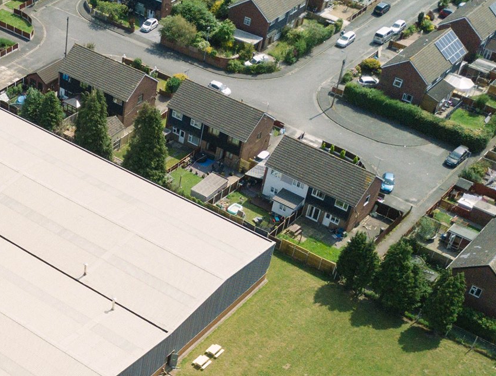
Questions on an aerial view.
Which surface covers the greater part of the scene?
buildings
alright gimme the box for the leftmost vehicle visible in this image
[140,18,160,32]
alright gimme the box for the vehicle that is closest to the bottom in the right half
[381,172,395,193]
